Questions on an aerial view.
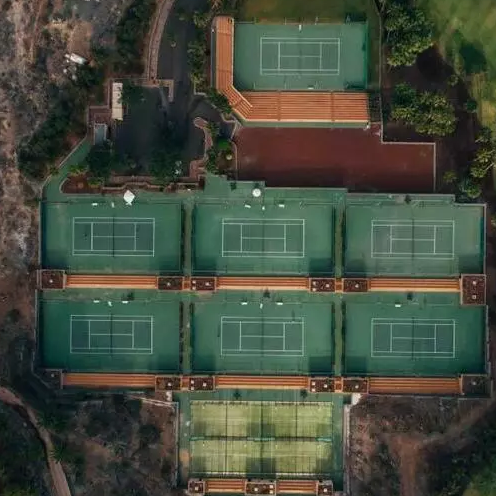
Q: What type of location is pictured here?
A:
sports ground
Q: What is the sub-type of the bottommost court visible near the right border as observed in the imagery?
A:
tennis court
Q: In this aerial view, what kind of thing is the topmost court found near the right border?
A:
tennis court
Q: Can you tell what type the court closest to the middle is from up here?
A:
tennis court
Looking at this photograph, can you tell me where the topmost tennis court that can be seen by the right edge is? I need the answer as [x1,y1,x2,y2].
[346,204,480,276]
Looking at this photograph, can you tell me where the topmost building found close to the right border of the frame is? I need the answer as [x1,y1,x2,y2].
[460,274,486,304]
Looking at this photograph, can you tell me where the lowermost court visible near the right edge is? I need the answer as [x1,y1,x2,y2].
[345,304,483,377]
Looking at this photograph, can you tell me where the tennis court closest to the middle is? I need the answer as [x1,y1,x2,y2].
[194,203,335,275]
